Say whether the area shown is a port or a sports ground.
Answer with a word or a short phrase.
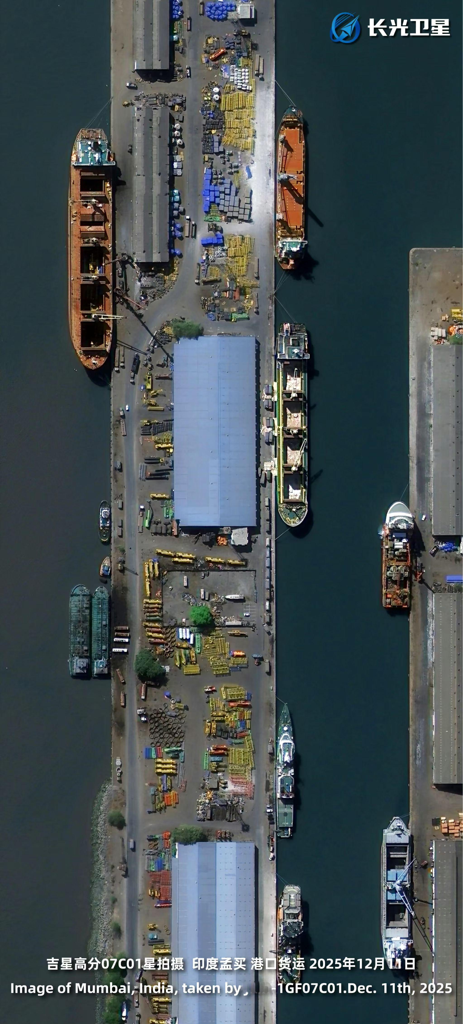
port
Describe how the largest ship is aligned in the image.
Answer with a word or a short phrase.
up and down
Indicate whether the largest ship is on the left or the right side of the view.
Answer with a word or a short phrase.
left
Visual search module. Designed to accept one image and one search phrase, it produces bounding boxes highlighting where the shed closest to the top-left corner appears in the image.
[135,0,169,70]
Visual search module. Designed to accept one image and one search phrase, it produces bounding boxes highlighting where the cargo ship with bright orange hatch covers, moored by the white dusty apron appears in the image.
[276,105,308,270]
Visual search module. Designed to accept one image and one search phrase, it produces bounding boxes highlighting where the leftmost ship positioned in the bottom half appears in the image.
[69,584,90,677]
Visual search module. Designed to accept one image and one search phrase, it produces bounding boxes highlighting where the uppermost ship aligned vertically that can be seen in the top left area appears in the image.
[68,129,127,369]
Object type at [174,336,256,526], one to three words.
building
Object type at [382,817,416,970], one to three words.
ship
